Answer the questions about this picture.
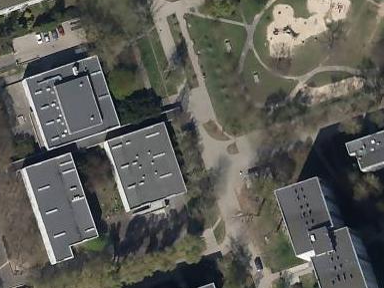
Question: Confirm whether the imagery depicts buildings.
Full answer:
Yes, looking at the shot, I can spot a building.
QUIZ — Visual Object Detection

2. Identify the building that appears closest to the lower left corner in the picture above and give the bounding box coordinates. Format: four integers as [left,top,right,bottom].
[21,153,98,266]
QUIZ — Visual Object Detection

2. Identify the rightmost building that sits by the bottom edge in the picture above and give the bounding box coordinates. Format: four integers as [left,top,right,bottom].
[274,178,370,288]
